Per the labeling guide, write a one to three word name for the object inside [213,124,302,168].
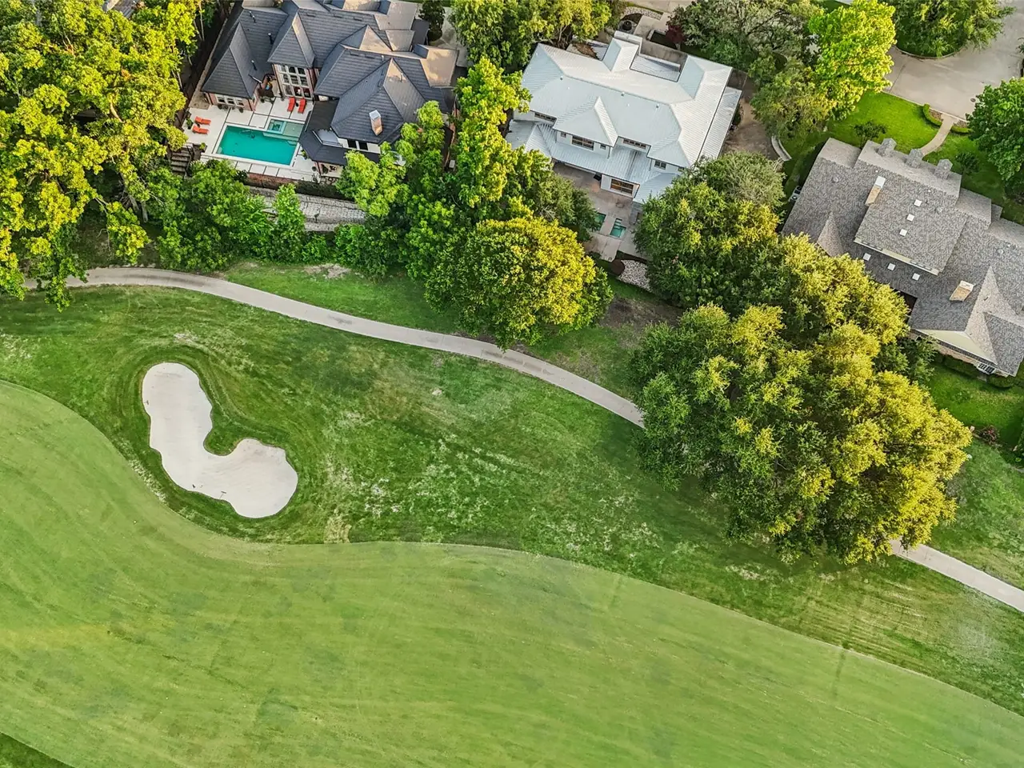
swimming pool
